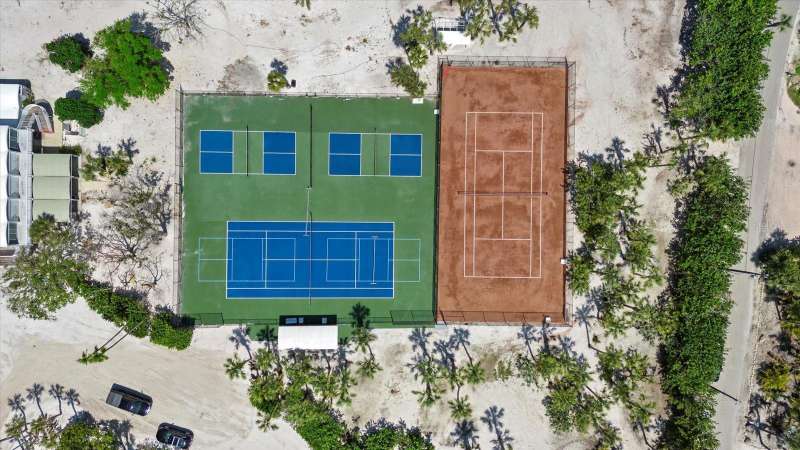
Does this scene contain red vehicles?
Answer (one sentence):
No, there isn't any red vehicle down there.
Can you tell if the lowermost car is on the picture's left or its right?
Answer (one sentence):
You can find the lowermost car on the left side of the picture.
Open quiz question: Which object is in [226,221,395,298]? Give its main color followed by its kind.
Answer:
blue tennis court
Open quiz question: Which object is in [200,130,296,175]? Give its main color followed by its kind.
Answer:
blue sports court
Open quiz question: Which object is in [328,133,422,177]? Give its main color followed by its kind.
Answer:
blue sports court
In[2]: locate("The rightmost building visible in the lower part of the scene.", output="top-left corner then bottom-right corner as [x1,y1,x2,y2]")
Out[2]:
[278,323,339,350]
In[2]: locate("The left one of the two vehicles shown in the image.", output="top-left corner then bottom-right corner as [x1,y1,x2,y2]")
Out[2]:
[102,388,148,414]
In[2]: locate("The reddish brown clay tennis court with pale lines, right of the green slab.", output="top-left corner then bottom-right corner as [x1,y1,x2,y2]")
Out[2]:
[439,66,567,323]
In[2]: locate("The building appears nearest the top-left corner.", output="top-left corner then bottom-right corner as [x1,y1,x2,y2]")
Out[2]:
[0,84,43,122]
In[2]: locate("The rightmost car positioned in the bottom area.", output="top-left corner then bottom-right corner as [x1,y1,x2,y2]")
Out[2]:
[155,424,192,446]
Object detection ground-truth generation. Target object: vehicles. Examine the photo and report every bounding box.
[102,388,148,414]
[155,424,192,446]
